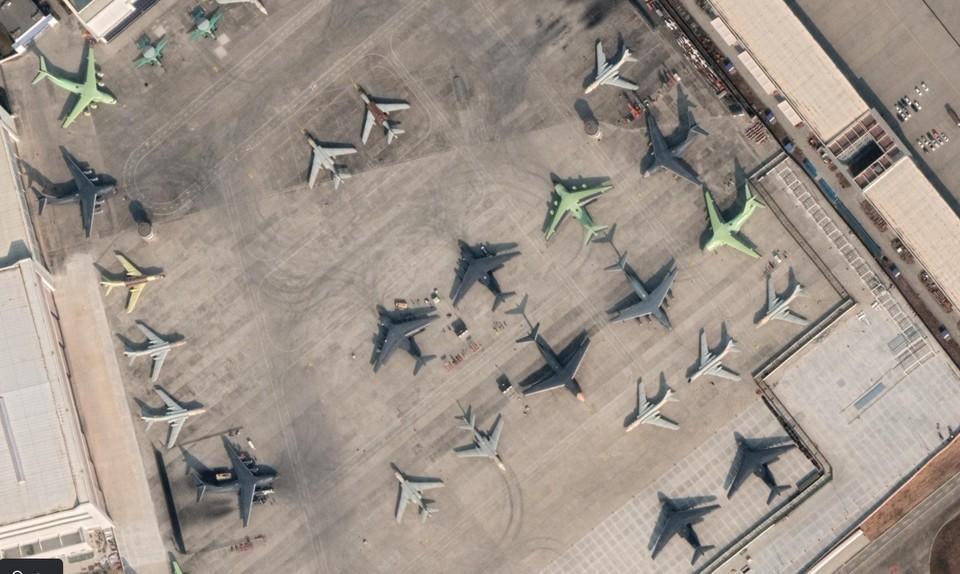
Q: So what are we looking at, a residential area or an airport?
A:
airport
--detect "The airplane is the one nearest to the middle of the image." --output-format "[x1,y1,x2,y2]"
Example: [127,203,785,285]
[454,250,522,314]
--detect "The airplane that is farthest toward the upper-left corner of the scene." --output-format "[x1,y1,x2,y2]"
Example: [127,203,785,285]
[32,47,117,128]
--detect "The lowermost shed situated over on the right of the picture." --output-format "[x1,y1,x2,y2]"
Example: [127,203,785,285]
[810,531,870,574]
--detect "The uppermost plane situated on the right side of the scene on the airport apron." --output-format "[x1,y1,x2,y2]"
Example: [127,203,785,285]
[585,39,645,93]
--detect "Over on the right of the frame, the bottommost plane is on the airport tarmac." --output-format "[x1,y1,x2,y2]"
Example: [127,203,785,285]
[653,503,722,567]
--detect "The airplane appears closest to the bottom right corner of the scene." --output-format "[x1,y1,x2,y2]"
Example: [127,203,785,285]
[729,444,798,508]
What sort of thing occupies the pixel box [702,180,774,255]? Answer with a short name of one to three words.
airplane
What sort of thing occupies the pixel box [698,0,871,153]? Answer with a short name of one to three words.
hangar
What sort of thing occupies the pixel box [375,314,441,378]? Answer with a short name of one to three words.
airplane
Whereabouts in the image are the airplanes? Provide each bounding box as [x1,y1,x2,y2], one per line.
[94,251,164,313]
[454,250,522,314]
[585,39,645,93]
[119,324,187,384]
[643,109,710,185]
[729,444,798,508]
[756,274,816,327]
[702,180,774,255]
[32,47,117,128]
[397,474,445,527]
[518,324,592,399]
[362,96,411,146]
[137,388,204,449]
[608,253,680,328]
[688,330,747,383]
[626,380,685,432]
[457,415,505,471]
[375,314,441,378]
[31,144,115,239]
[190,8,225,41]
[547,185,615,248]
[309,140,358,191]
[194,433,276,528]
[218,0,265,11]
[653,503,722,567]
